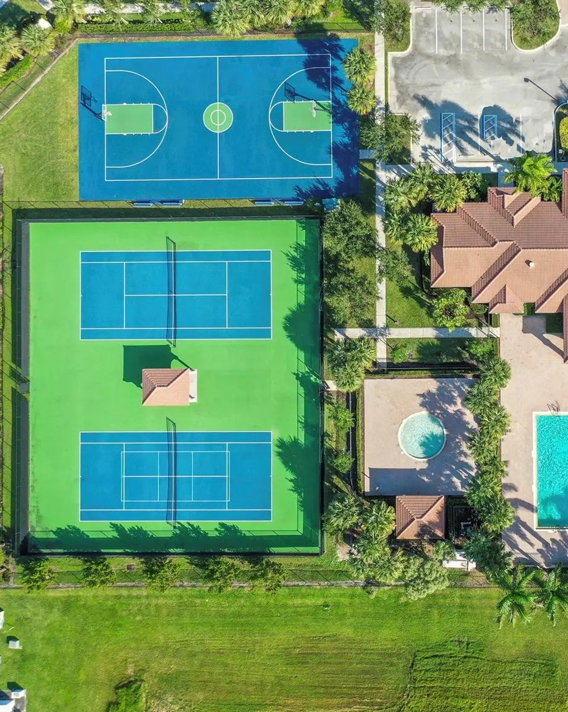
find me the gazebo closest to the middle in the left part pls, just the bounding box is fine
[142,370,200,408]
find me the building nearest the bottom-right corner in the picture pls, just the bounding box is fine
[394,498,446,542]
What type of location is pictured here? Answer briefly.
sports ground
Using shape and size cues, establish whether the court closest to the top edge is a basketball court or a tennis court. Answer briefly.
basketball court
